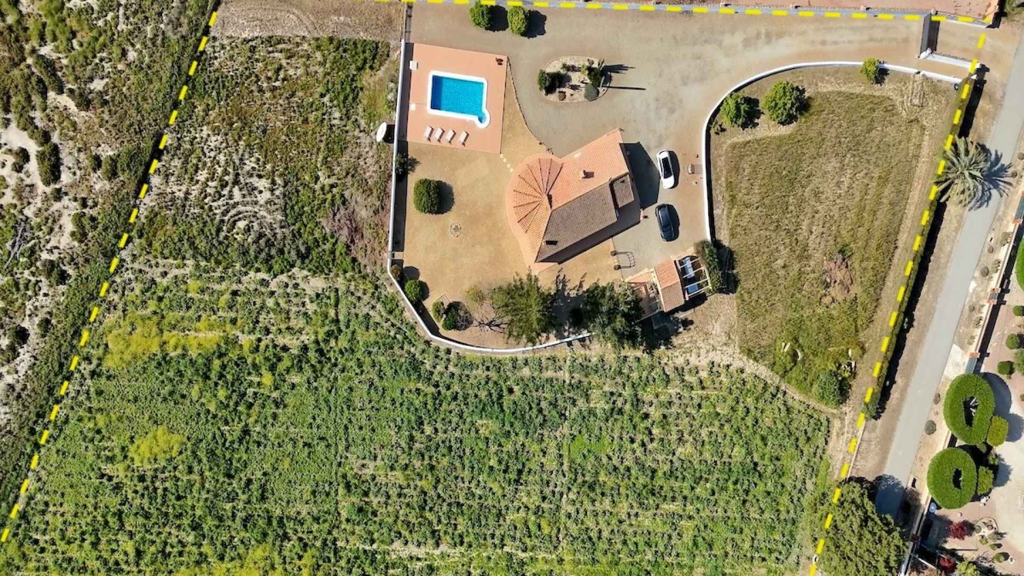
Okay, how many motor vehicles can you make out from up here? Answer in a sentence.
In total, 2 motor vehicles can be seen.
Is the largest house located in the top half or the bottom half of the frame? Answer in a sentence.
The largest house sits in the top half of the picture.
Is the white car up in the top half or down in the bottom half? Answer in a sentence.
You can find the white car in the top half.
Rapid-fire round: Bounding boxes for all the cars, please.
[654,203,676,243]
[655,150,677,190]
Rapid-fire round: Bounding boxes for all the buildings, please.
[513,127,635,263]
[653,259,685,313]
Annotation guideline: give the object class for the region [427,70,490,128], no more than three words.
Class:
swimming pool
